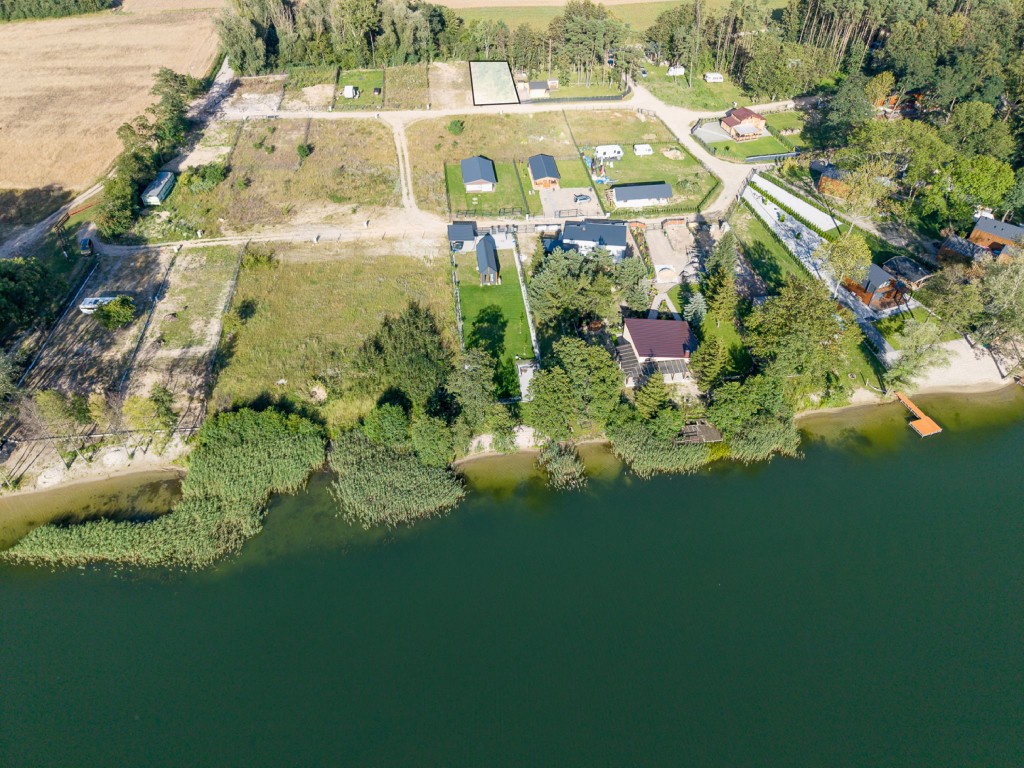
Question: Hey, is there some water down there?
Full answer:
Yes, water shows up in the scene.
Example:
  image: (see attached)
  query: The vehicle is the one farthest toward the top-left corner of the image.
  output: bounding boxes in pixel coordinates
[77,239,94,253]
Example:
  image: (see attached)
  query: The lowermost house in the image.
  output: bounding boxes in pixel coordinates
[623,318,690,370]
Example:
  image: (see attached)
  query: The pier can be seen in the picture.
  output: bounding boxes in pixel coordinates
[893,391,943,440]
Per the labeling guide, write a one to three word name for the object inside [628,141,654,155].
camper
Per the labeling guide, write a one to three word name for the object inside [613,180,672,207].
shed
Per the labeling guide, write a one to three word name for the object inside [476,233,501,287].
house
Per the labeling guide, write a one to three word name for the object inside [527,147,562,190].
building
